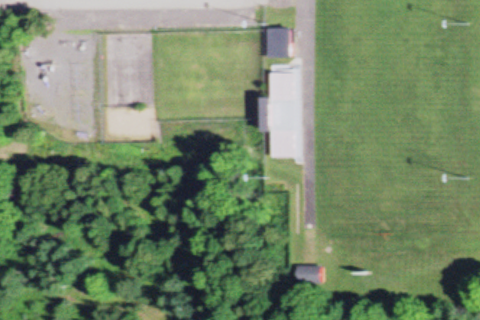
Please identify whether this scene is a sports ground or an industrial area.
sports ground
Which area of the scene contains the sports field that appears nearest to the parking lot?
top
